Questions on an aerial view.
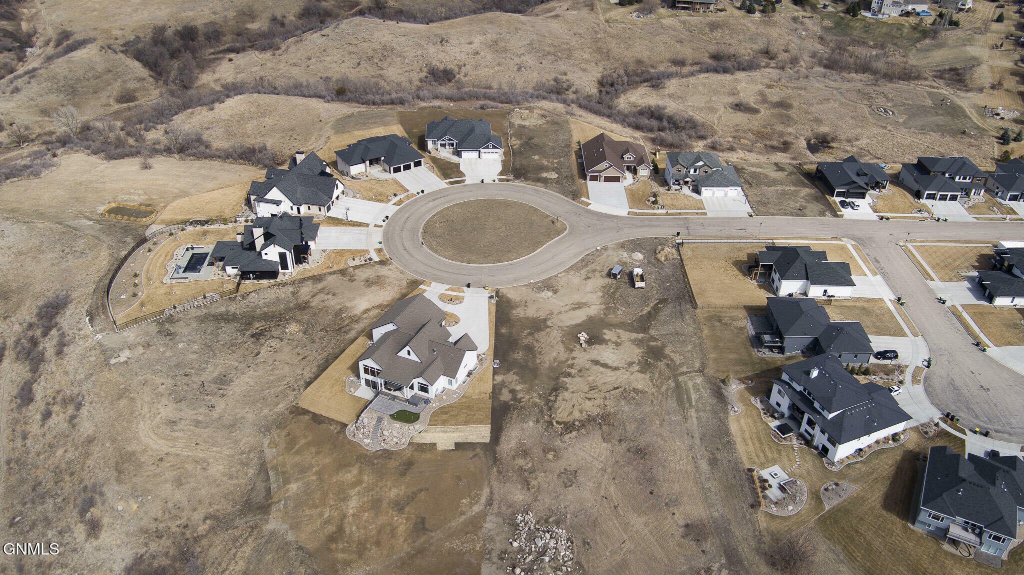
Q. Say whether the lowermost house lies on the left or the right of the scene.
right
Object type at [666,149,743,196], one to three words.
house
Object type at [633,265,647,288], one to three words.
vehicle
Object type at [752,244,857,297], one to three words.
house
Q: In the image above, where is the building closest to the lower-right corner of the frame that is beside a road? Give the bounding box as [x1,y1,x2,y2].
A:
[913,439,1024,562]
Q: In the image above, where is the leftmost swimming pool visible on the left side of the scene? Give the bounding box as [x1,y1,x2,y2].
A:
[181,251,209,273]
